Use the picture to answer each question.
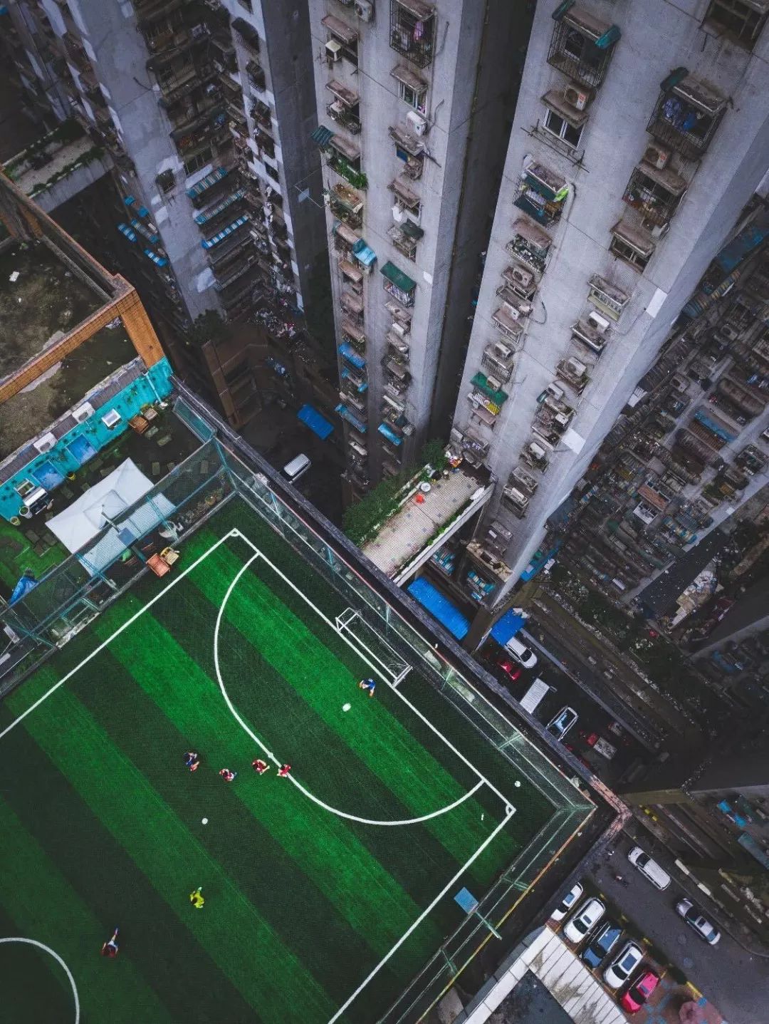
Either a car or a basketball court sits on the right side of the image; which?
car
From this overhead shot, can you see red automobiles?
Yes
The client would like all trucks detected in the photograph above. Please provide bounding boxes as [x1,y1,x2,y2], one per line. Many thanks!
[521,674,553,713]
[583,730,616,759]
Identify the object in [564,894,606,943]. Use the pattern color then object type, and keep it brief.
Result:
white car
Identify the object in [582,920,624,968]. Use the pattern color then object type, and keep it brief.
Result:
blue car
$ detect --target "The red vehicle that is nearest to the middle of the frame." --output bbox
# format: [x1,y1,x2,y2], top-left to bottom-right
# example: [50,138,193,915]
[493,659,519,683]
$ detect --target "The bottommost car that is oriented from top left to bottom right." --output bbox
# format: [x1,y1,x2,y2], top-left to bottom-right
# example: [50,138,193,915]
[674,897,722,947]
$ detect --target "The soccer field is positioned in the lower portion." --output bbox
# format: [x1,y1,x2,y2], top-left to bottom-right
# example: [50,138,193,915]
[0,493,558,1024]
